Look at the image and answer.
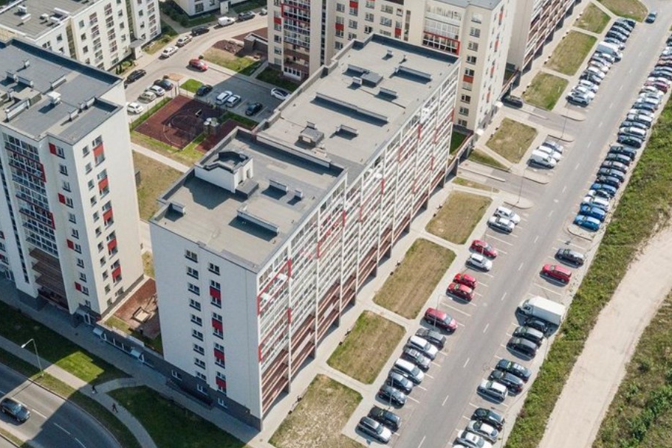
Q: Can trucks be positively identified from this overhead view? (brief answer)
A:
Yes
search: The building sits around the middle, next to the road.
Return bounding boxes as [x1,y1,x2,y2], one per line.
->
[147,31,464,431]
